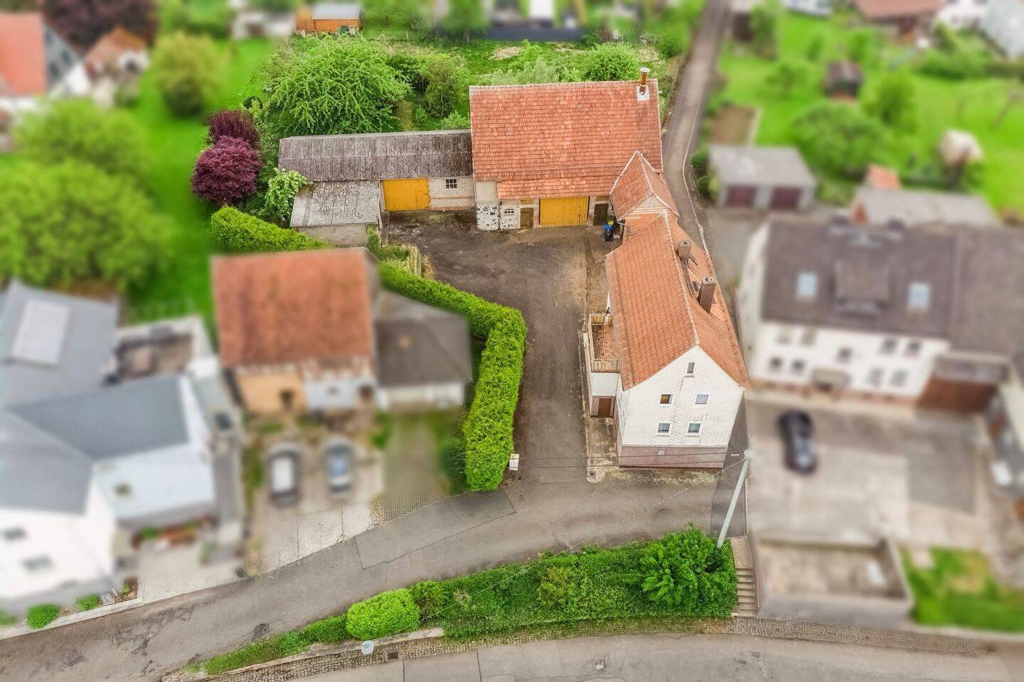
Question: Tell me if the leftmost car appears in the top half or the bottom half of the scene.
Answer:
bottom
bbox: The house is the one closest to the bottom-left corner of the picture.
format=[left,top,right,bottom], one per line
[0,277,231,597]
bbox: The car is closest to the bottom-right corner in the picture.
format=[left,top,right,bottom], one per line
[778,413,819,475]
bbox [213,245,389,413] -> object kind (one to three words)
house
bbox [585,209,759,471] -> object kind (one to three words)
house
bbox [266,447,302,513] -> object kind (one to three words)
car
